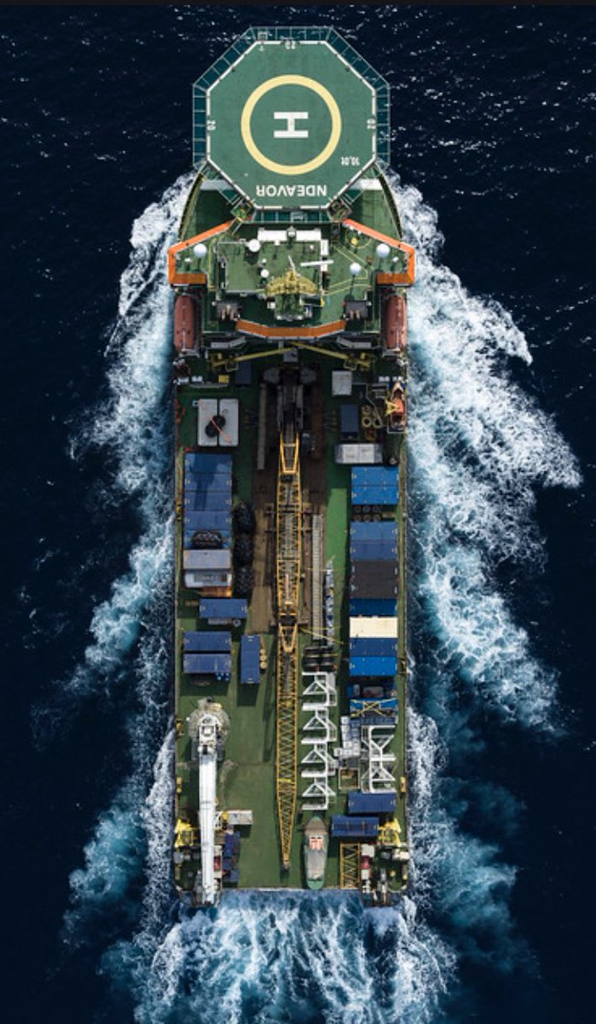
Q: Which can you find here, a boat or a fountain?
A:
boat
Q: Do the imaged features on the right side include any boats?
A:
Yes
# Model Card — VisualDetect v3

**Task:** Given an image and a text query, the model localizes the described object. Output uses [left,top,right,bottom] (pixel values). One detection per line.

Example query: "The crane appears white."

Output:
[185,696,229,907]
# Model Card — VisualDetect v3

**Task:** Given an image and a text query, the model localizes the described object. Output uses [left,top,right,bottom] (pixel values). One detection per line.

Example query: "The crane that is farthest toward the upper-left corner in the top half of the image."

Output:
[210,345,296,375]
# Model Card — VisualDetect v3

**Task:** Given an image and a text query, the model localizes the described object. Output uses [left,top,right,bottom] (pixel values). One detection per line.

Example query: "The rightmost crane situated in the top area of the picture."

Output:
[292,342,376,375]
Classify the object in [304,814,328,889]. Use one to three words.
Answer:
boat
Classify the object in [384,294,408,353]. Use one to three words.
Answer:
boat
